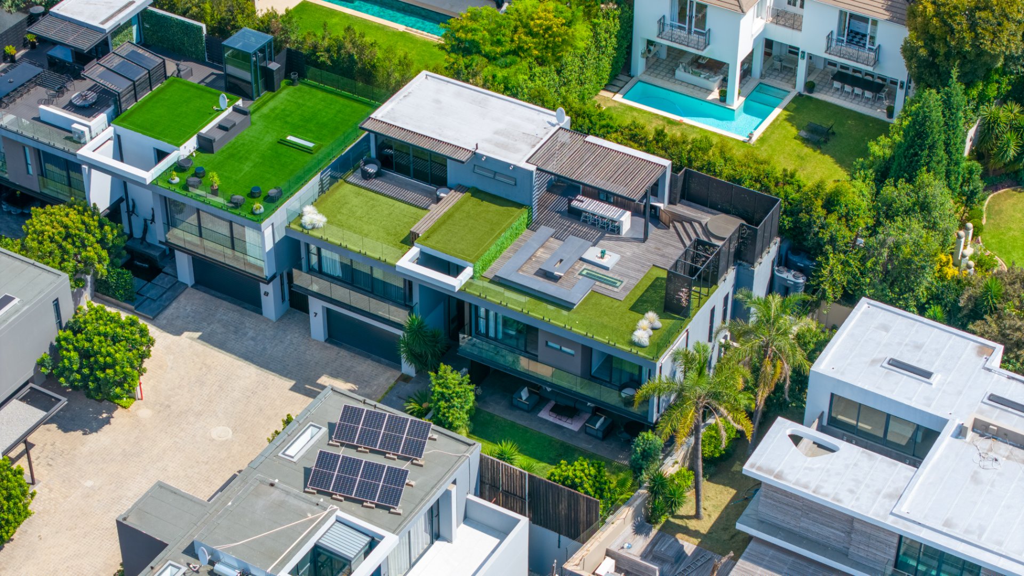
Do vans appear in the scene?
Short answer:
No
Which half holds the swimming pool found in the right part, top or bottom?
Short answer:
top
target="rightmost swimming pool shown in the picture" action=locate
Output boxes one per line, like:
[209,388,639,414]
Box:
[611,77,798,144]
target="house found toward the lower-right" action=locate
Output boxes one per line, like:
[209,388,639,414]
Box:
[729,299,1024,576]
